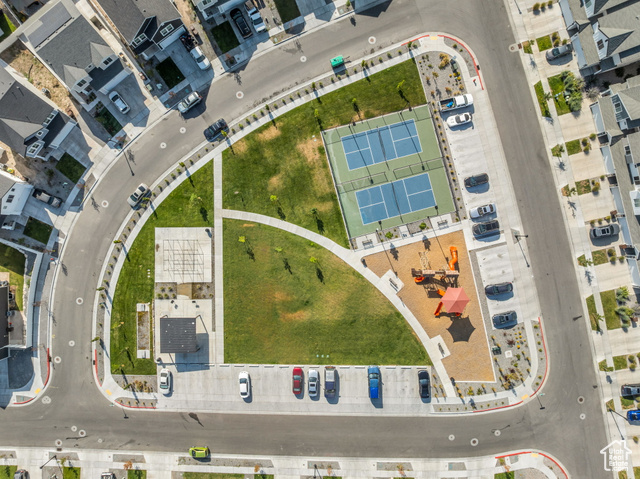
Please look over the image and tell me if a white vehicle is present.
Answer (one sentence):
Yes, there's a white vehicle down there.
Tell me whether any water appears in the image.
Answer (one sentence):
No, water can't be seen anywhere here.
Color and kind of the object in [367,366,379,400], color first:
blue vehicle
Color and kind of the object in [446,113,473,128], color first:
white car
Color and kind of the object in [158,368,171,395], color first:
white vehicle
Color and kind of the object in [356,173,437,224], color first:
blue sports court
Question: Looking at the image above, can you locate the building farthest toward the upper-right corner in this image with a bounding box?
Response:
[561,0,640,79]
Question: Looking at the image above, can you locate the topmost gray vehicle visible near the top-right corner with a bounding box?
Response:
[545,43,574,60]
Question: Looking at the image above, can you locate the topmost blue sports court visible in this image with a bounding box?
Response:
[341,119,422,171]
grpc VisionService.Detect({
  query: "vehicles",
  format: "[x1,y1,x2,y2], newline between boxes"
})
[101,472,114,479]
[367,366,379,400]
[621,384,640,396]
[184,40,214,73]
[438,94,473,113]
[158,368,171,395]
[626,410,640,421]
[242,2,269,37]
[190,446,211,459]
[589,224,619,238]
[14,469,28,479]
[469,204,497,218]
[307,369,319,396]
[484,282,513,295]
[446,113,473,128]
[291,368,303,395]
[324,366,336,400]
[472,221,501,234]
[230,8,253,39]
[127,183,150,208]
[178,91,204,112]
[545,43,574,60]
[238,371,250,398]
[29,186,64,208]
[418,370,430,398]
[202,120,229,139]
[463,173,490,188]
[491,311,518,326]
